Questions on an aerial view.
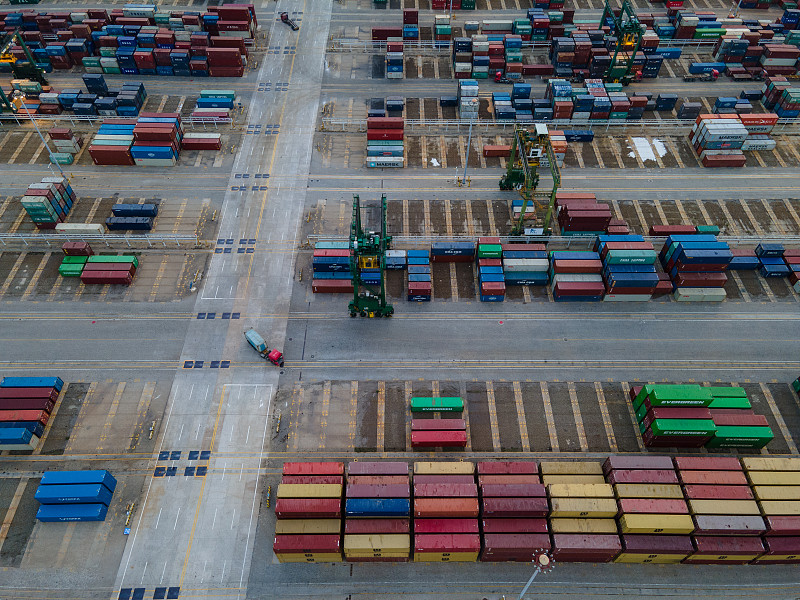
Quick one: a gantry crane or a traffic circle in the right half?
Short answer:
gantry crane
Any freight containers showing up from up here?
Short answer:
Yes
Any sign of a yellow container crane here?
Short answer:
No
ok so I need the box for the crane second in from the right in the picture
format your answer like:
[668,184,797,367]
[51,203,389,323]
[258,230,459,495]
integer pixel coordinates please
[502,123,564,239]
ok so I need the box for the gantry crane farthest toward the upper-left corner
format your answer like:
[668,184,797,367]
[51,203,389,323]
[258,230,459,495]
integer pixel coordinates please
[0,30,48,126]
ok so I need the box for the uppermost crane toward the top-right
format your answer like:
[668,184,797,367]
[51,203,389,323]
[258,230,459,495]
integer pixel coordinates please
[597,0,647,84]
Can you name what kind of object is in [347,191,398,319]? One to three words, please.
container crane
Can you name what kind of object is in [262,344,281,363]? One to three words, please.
vehicle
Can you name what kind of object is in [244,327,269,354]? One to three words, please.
shipping container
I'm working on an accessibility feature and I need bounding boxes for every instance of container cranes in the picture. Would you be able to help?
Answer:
[597,0,647,84]
[347,191,398,319]
[502,123,564,239]
[0,30,48,126]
